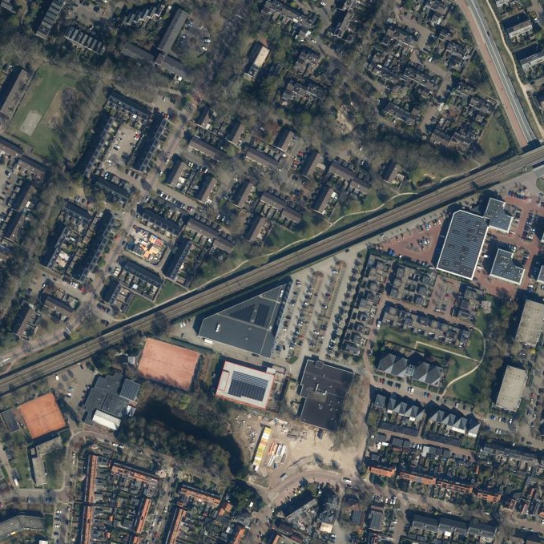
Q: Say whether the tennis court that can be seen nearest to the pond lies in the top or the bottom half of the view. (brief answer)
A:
bottom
